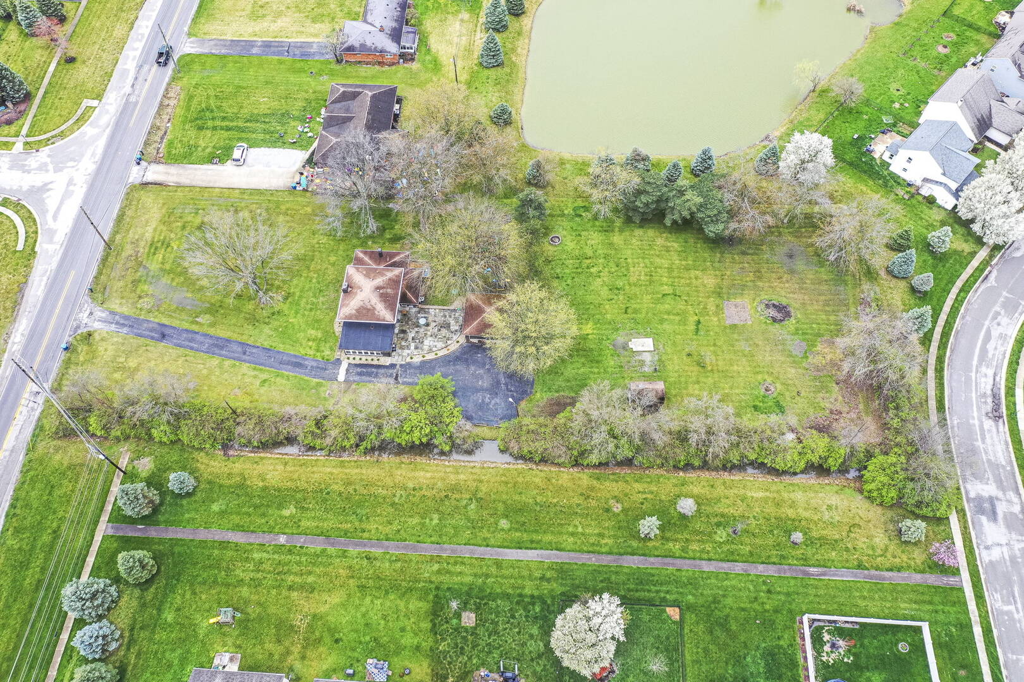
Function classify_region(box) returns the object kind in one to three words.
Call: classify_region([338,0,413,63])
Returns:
house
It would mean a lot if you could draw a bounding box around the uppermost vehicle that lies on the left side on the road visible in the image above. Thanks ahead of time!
[156,48,173,68]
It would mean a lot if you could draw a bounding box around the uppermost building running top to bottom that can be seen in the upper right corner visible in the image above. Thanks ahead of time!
[980,16,1024,106]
